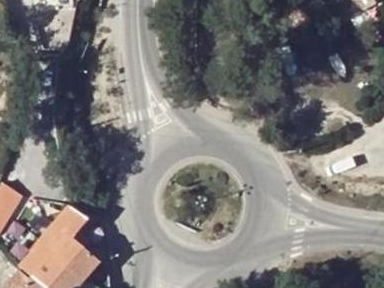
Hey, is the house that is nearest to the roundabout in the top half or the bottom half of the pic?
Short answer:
bottom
